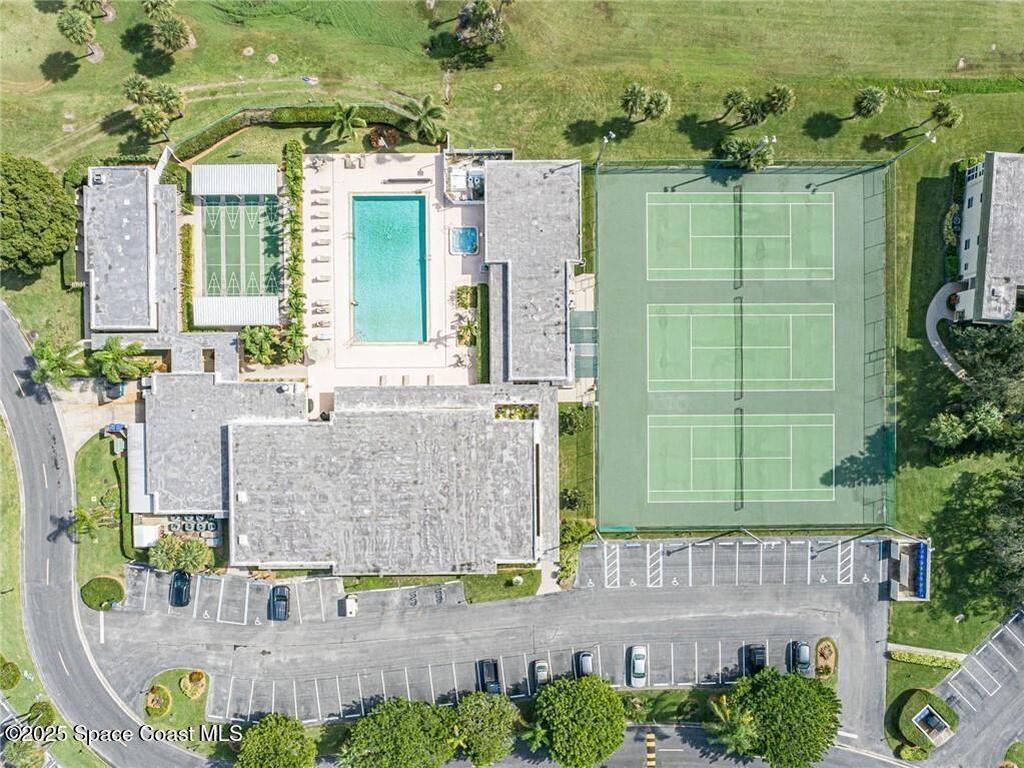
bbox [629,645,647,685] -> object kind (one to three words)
car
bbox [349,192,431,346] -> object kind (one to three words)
swimming pool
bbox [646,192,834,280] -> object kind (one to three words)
tennis court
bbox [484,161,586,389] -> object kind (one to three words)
building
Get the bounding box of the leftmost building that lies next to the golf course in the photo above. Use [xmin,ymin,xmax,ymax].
[80,167,169,333]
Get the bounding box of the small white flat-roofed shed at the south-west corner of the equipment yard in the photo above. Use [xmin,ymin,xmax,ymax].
[134,524,166,547]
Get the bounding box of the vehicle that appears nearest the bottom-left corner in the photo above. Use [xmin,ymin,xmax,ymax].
[171,568,191,607]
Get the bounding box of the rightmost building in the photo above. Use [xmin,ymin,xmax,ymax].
[949,151,1024,326]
